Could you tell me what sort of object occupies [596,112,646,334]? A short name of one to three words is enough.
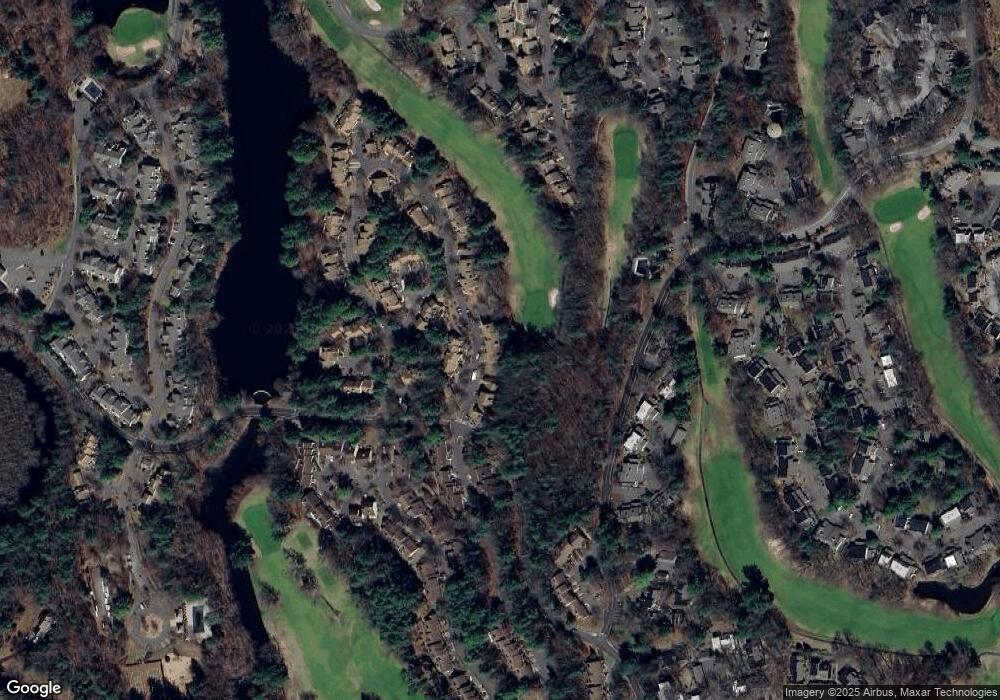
golf course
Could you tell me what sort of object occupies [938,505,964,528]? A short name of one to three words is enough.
house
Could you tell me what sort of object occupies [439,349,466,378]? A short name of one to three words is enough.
house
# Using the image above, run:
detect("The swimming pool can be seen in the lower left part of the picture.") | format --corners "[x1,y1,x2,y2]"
[186,599,212,644]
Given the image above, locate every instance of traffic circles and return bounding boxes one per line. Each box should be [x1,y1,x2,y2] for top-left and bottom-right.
[129,602,173,645]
